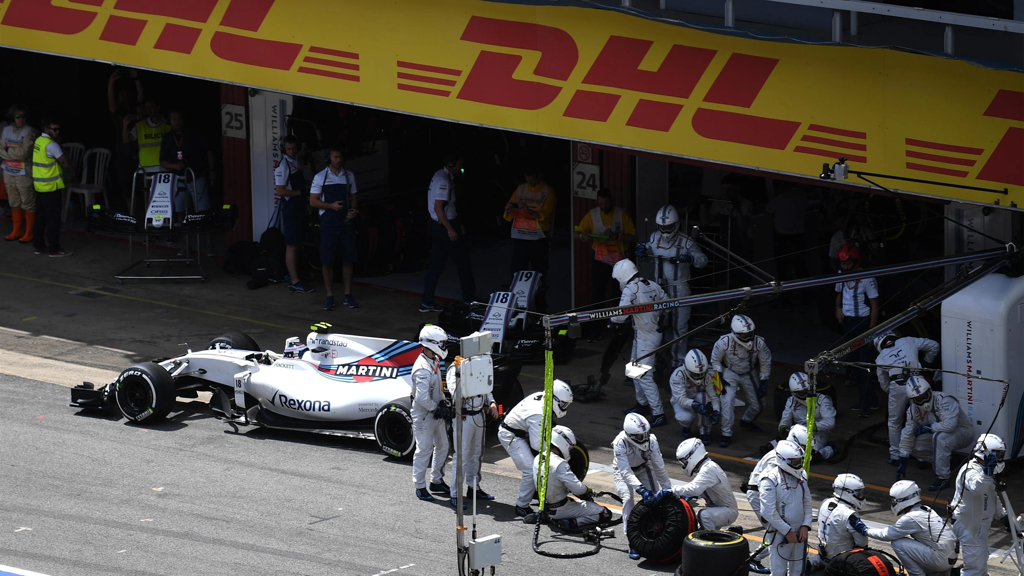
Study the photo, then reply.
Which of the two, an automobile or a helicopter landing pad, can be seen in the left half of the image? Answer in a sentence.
Looking in the left half of the image, you will find an automobile.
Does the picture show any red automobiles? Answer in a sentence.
No, the photo shows no red automobile.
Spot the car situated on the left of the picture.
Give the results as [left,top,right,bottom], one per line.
[64,323,523,456]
